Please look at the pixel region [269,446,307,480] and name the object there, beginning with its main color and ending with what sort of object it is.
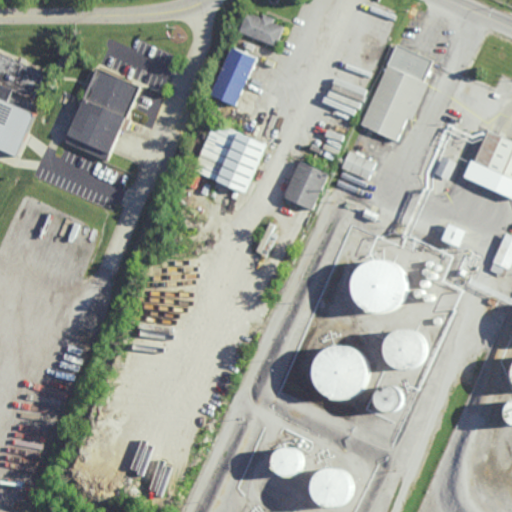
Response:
white storage tank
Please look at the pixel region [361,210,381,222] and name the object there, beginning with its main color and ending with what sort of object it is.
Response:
white vehicle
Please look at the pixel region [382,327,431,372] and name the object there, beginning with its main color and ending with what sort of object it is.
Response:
white storage tank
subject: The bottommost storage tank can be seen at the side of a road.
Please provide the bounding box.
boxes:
[308,466,357,512]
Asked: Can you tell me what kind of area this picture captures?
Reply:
industrial area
